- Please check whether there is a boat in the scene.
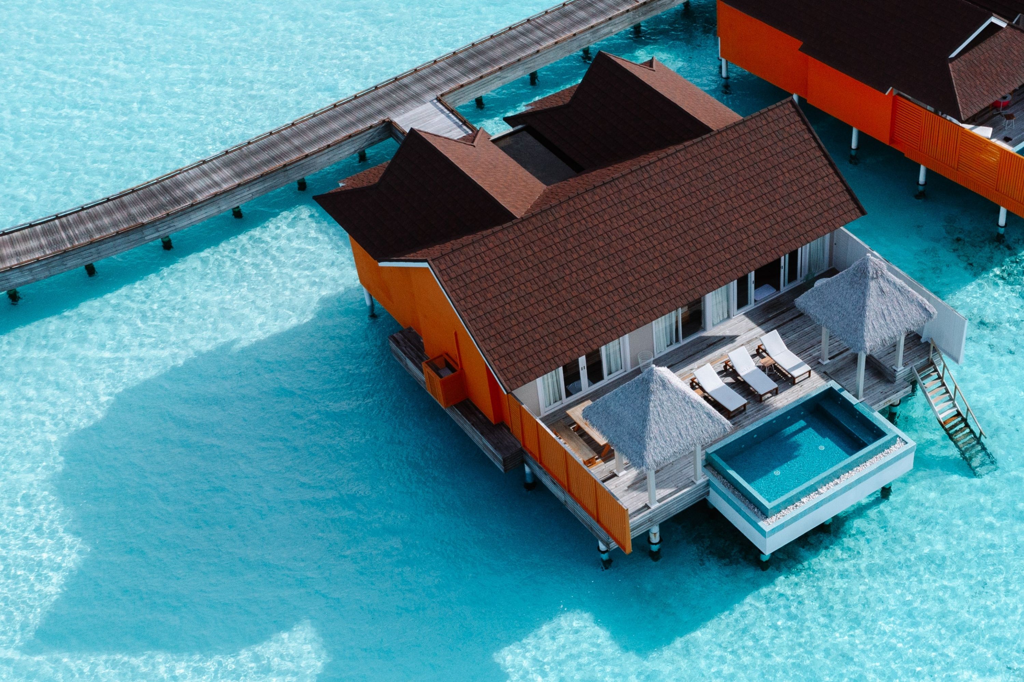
No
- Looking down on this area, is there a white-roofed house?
No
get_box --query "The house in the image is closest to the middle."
[315,50,867,507]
